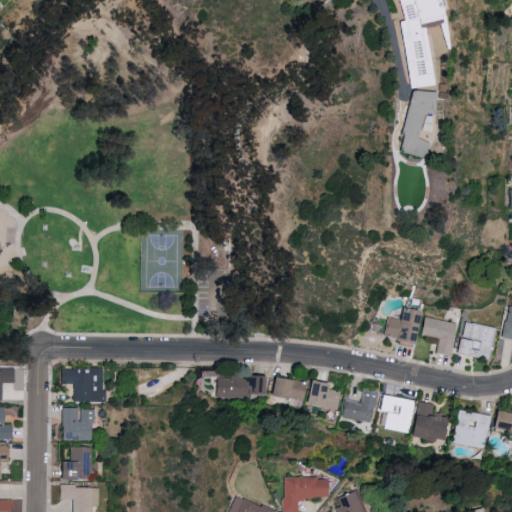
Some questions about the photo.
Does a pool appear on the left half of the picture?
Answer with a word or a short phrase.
No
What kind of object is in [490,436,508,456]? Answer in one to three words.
swimming pool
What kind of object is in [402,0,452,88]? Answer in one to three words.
building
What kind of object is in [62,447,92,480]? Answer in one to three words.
house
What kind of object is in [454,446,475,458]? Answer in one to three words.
swimming pool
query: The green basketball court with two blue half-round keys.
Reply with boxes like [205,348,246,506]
[141,230,184,292]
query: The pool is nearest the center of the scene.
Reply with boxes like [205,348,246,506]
[380,298,404,316]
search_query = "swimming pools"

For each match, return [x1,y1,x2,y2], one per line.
[454,446,475,458]
[490,436,508,456]
[380,298,404,316]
